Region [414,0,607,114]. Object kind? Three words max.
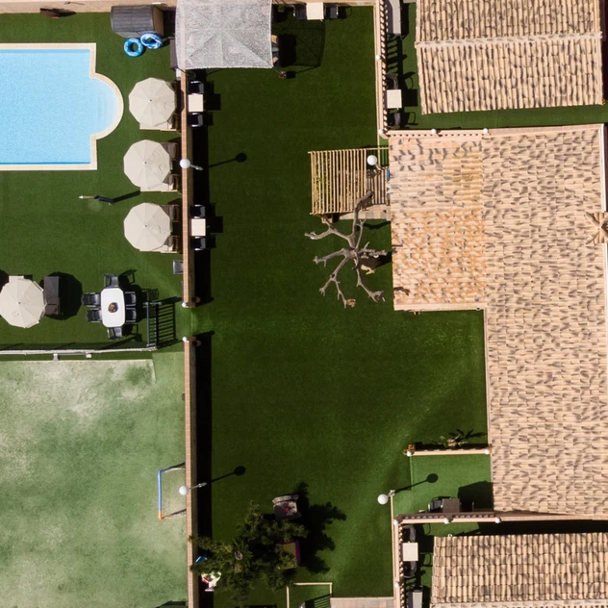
building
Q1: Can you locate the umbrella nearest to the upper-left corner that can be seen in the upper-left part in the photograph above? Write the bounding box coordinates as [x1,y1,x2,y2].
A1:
[130,80,178,126]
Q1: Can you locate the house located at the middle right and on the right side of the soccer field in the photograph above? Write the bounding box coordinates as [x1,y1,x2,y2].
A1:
[388,123,608,520]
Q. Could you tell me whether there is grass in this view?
Yes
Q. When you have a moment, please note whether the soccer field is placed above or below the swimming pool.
below it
